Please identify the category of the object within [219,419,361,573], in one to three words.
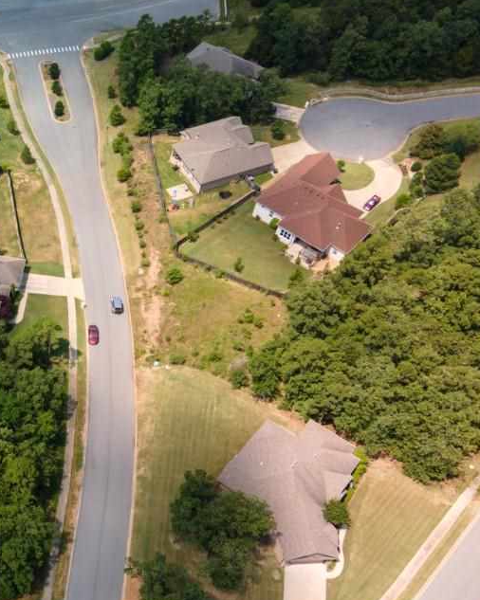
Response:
house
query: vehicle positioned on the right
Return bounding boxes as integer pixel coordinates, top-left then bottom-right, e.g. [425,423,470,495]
[364,197,380,210]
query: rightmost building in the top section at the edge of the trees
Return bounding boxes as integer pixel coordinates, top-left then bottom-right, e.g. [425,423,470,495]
[255,153,379,262]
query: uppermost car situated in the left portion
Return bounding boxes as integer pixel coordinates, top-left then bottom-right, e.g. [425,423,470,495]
[110,295,124,314]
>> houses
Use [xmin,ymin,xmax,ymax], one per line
[0,256,26,300]
[174,116,294,192]
[219,419,361,573]
[187,42,264,91]
[255,153,379,262]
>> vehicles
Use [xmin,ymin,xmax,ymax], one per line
[364,197,380,210]
[110,295,124,314]
[89,325,100,345]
